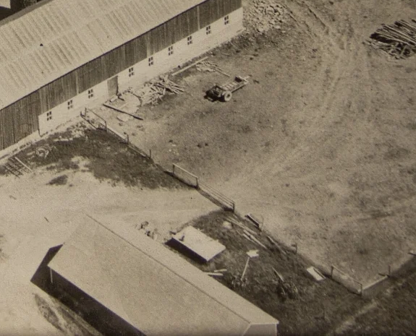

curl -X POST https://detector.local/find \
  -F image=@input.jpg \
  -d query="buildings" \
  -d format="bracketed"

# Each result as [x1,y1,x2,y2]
[0,0,244,158]
[46,215,279,336]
